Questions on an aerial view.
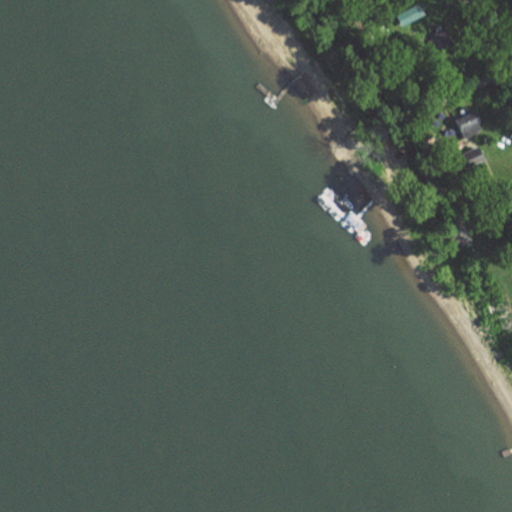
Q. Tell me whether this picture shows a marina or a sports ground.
marina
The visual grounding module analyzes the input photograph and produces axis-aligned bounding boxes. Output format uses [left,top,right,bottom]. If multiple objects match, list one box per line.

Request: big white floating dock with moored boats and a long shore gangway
[319,186,374,233]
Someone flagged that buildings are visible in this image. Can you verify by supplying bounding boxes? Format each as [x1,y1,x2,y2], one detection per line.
[459,112,484,138]
[466,146,487,166]
[400,4,427,26]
